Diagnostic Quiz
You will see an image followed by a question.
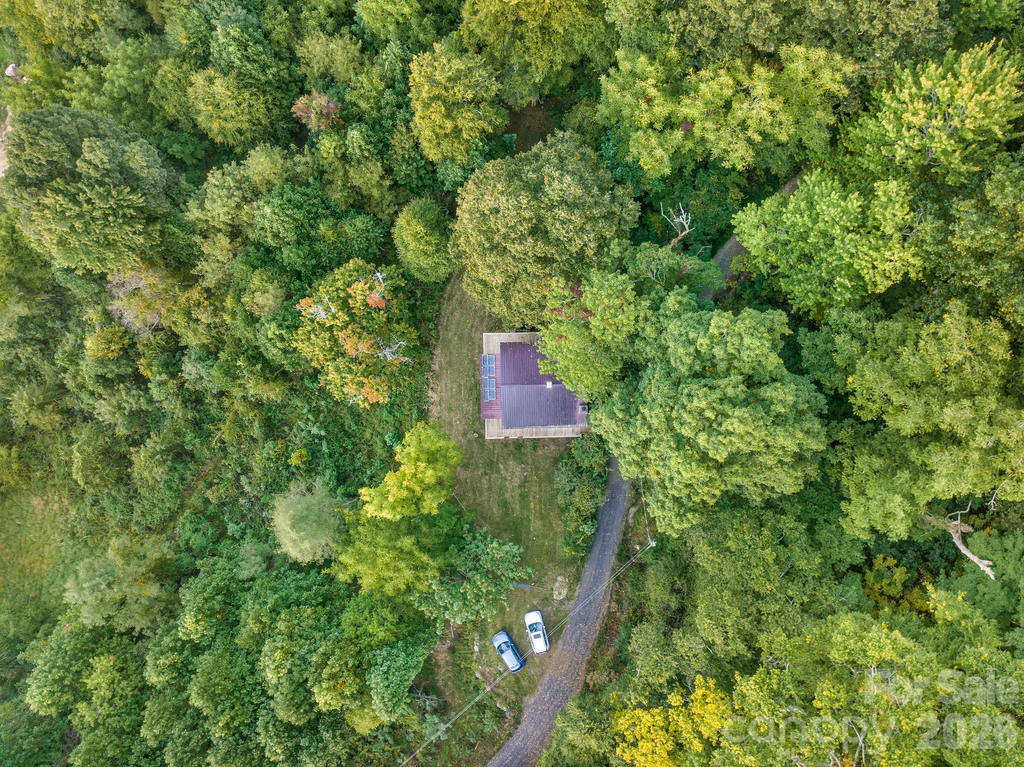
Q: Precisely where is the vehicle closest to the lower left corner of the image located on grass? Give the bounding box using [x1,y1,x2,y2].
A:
[492,627,526,675]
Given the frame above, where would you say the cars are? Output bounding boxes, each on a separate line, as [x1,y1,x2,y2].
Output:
[492,627,526,675]
[525,607,550,658]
